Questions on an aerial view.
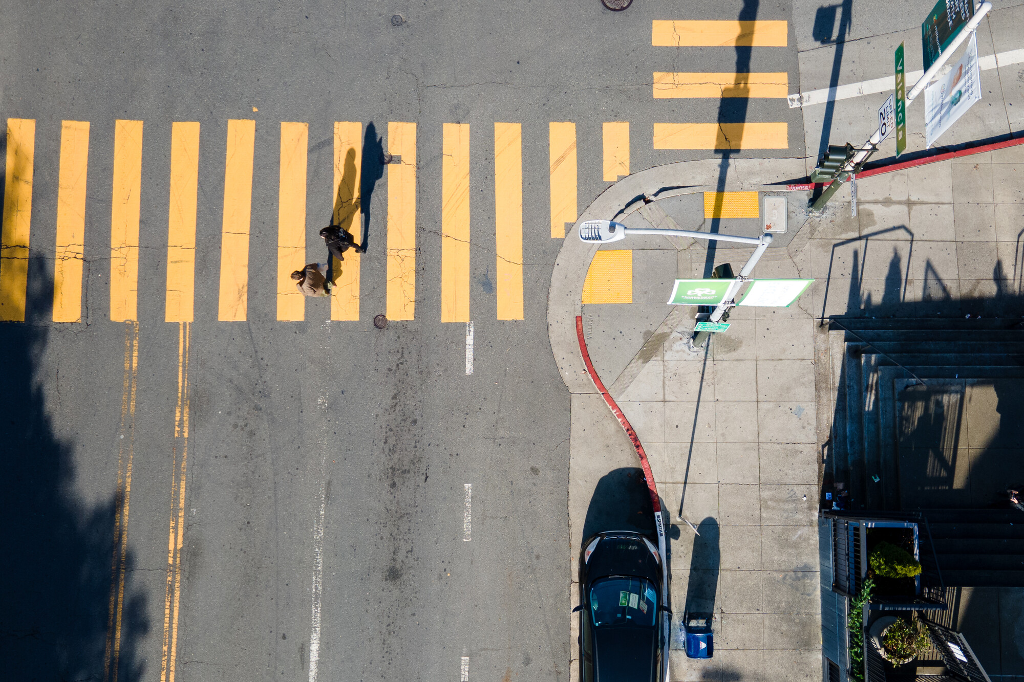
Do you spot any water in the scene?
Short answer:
No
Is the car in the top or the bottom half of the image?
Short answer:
bottom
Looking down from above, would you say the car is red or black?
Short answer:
black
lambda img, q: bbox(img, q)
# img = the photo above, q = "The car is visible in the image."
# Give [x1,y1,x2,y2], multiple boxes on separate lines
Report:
[570,530,674,682]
